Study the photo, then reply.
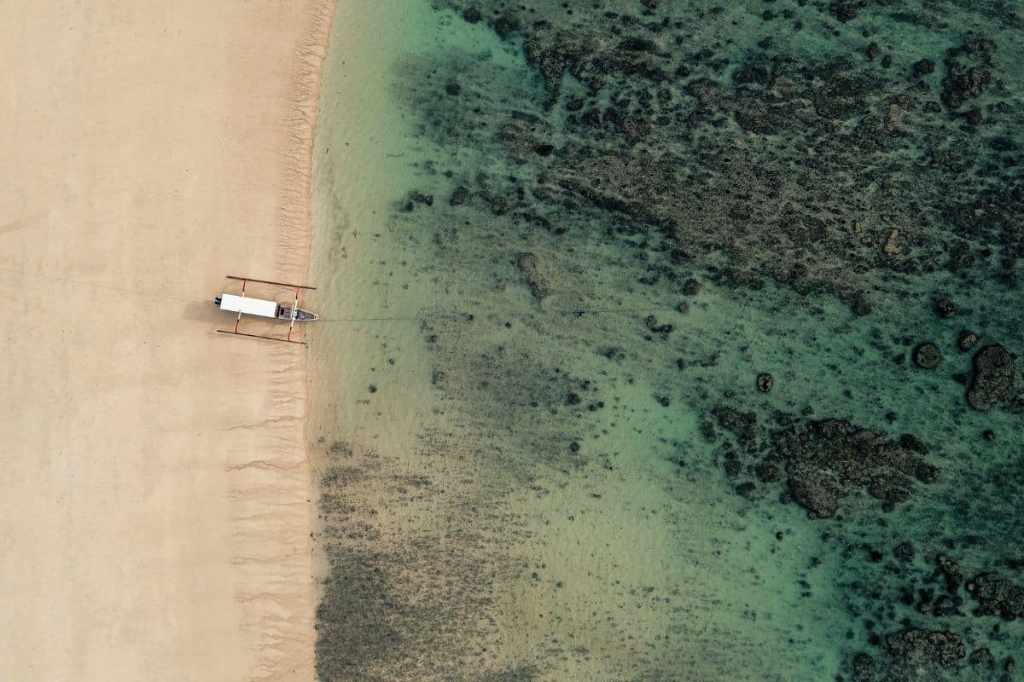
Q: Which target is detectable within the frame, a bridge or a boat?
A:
boat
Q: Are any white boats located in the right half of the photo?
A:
No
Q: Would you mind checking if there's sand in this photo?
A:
Yes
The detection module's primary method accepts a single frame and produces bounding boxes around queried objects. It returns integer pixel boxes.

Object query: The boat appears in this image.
[212,275,322,344]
